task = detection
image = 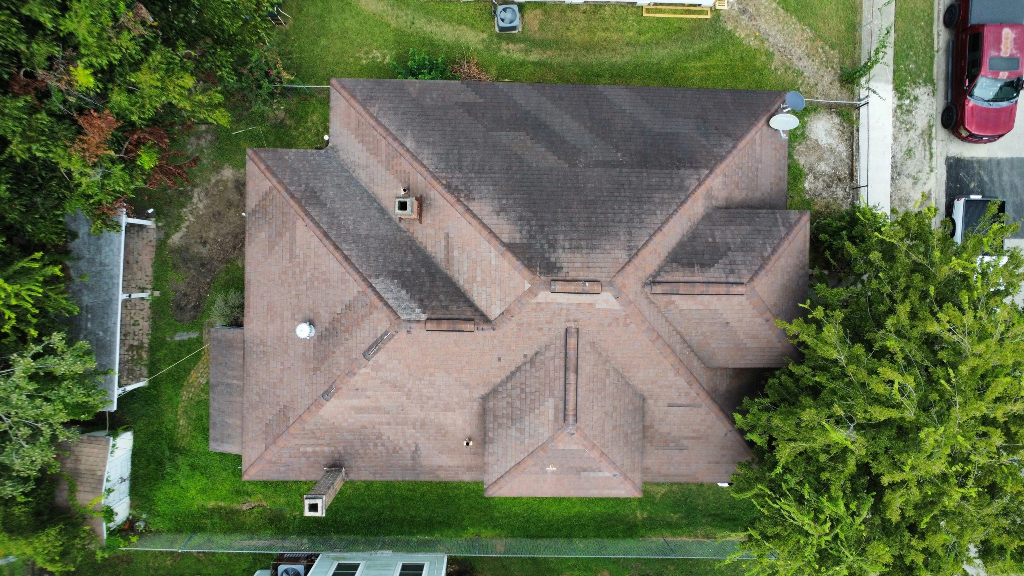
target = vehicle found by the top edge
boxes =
[941,0,1024,145]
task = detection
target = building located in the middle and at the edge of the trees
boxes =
[209,78,811,516]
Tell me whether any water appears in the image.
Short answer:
No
